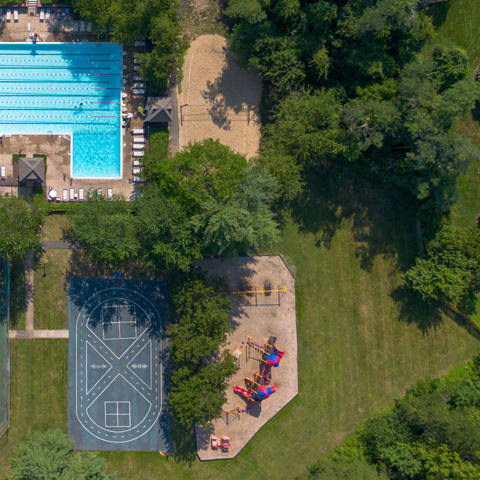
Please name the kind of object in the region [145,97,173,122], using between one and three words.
building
